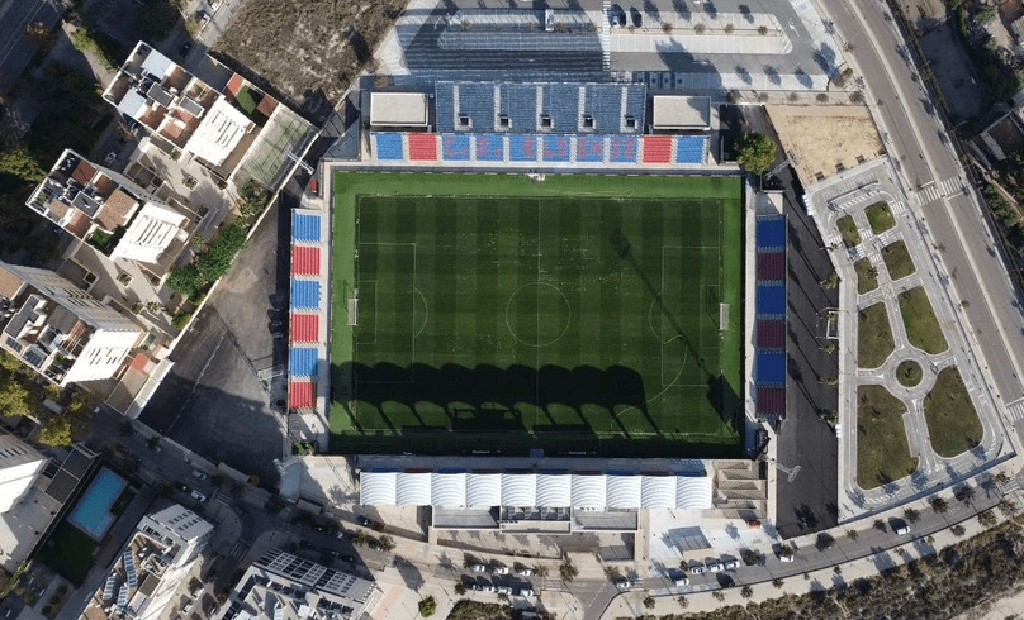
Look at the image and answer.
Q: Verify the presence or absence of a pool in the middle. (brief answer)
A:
No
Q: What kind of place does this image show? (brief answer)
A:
sports ground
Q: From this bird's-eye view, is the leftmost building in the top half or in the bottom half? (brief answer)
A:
bottom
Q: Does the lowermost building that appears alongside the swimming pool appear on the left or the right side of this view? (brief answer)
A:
left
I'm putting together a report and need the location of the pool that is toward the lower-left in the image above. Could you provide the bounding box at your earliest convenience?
[68,466,128,539]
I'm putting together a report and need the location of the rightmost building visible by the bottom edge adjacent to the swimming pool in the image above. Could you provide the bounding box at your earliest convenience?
[75,503,212,620]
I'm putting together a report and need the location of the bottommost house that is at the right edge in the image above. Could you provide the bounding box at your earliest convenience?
[989,115,1024,168]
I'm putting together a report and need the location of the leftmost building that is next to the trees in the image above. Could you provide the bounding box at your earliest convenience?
[0,428,44,514]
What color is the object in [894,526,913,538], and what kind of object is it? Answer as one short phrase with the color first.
white vehicle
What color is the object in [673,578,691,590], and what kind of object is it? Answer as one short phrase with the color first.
white vehicle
